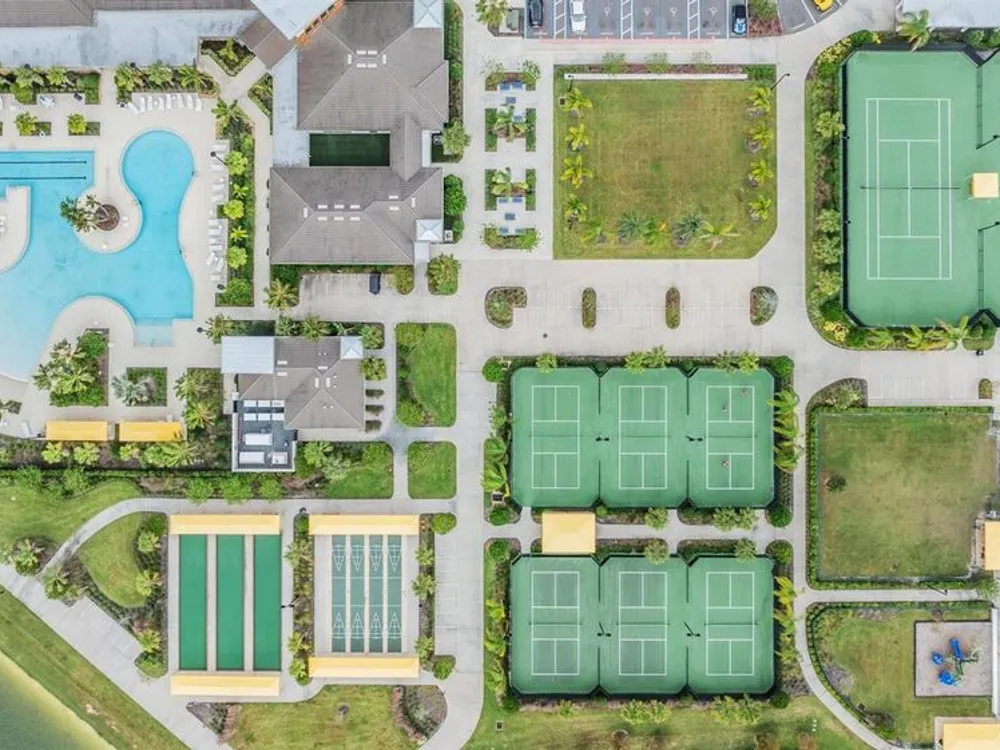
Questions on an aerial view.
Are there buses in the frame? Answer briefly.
No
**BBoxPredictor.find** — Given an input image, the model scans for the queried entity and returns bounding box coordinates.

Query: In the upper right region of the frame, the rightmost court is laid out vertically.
[979,51,1000,320]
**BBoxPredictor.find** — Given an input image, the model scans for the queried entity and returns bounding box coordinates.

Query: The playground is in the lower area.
[915,622,987,698]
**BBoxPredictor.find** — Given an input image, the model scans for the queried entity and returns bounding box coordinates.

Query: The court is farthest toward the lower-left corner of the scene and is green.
[179,528,282,672]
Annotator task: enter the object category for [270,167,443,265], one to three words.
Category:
building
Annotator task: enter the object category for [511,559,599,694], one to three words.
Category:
sports court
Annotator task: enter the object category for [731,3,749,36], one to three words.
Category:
car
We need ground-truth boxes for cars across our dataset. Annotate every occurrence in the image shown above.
[731,3,749,36]
[528,0,545,27]
[814,0,833,11]
[569,0,587,35]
